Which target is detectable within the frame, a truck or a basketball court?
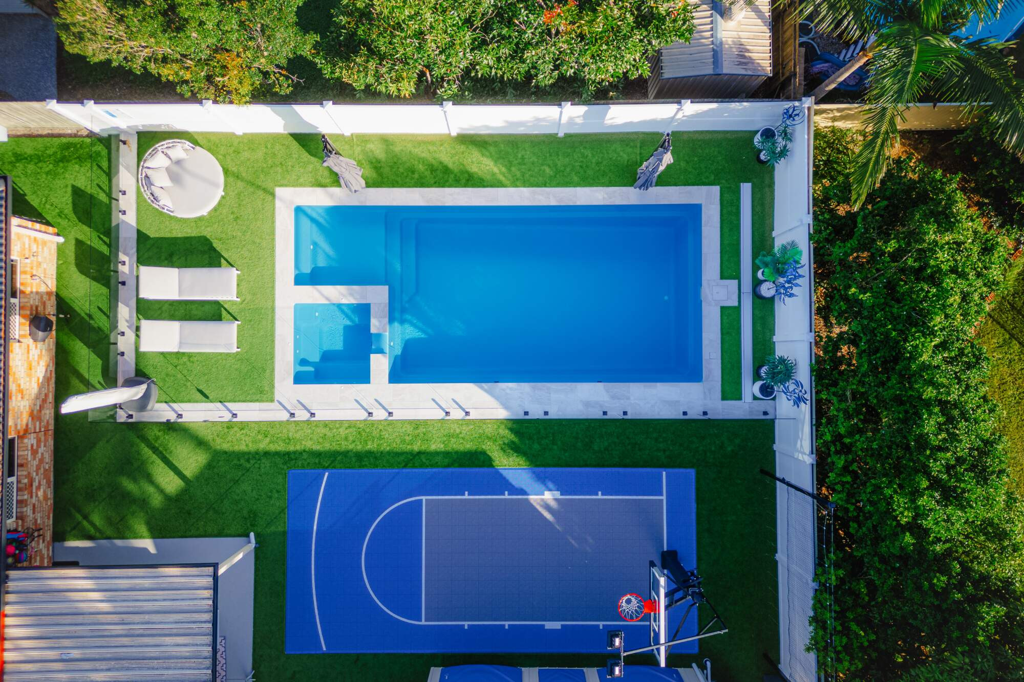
basketball court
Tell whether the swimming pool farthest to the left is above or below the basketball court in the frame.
above it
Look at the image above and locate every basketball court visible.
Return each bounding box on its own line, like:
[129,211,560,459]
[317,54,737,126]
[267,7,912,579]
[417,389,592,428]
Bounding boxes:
[284,469,699,654]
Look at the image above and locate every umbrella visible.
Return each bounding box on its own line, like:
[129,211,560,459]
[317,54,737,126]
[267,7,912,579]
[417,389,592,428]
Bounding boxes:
[62,378,158,412]
[322,143,362,188]
[632,142,668,186]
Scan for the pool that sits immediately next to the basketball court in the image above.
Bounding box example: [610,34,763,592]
[116,133,776,420]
